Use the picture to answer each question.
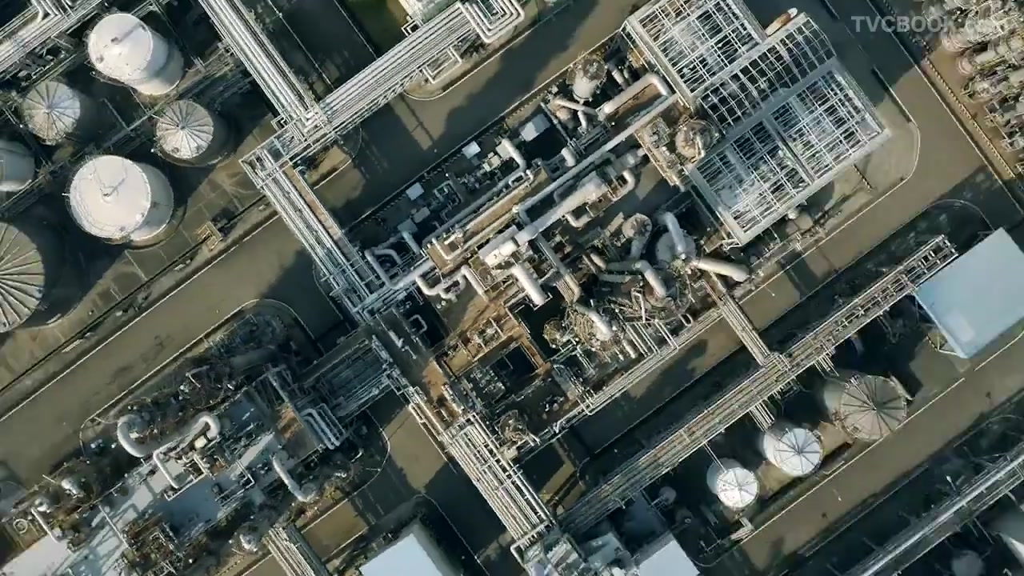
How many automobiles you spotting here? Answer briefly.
0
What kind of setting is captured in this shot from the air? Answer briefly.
industrial area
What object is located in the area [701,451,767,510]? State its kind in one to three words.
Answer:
storage tank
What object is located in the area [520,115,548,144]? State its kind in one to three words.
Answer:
shed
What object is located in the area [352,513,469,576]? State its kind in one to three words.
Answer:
building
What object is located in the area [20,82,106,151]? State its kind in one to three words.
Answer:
storage tank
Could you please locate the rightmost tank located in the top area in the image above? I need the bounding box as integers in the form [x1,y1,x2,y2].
[153,100,237,172]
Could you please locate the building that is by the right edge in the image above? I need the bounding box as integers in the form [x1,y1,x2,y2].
[906,229,1024,356]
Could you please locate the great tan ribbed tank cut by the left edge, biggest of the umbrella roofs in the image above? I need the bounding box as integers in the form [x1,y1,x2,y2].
[0,221,70,335]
